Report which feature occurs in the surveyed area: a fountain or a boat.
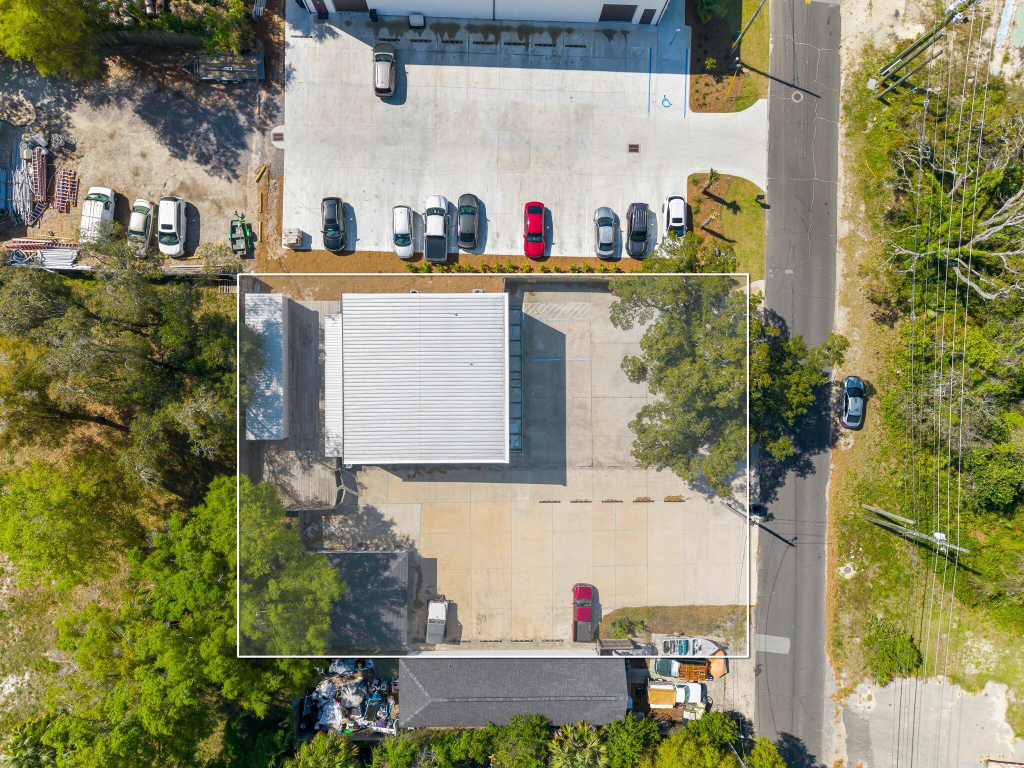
boat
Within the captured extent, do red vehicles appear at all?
Yes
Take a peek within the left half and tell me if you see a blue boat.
No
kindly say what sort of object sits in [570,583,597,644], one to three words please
truck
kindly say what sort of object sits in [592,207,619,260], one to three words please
car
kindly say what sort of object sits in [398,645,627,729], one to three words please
house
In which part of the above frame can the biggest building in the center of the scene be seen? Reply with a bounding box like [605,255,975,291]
[324,292,510,465]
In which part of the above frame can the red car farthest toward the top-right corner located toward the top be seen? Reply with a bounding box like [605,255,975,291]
[521,202,548,258]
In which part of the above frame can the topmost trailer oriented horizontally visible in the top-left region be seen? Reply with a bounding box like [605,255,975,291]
[180,49,260,83]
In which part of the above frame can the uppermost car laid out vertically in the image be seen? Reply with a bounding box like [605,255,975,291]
[370,44,397,98]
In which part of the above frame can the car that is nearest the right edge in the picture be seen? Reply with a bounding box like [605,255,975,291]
[838,375,868,430]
